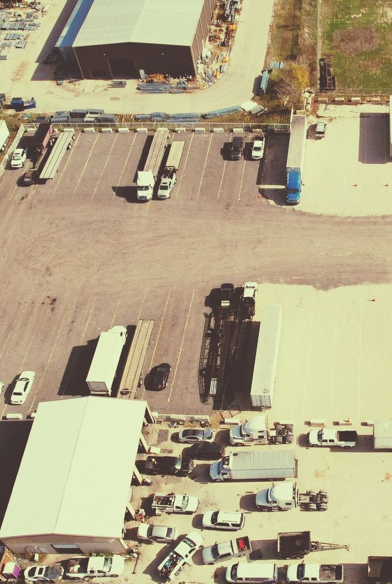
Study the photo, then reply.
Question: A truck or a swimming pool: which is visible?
truck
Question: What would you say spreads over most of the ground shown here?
paved ground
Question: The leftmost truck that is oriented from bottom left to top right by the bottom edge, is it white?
Yes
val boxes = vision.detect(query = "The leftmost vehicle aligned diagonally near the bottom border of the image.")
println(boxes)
[155,533,206,583]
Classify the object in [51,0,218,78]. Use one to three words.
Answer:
building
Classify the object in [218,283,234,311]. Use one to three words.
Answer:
vehicle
